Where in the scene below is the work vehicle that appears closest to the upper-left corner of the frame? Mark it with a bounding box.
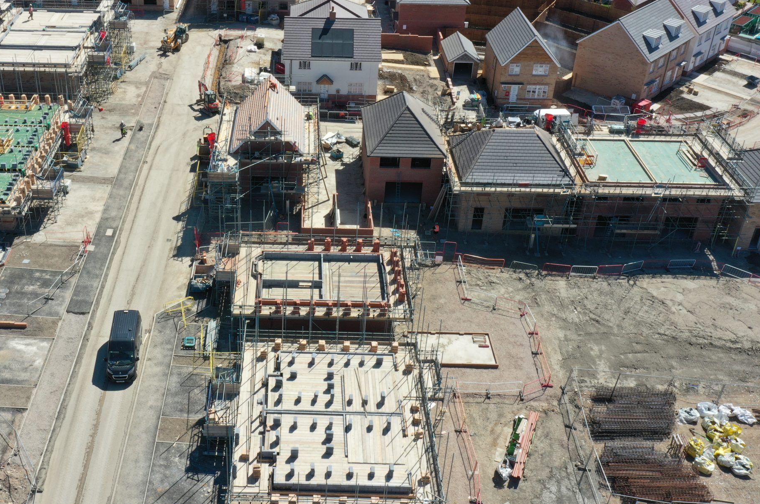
[159,22,191,48]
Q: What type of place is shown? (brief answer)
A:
residential area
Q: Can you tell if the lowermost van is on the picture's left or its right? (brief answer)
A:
left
